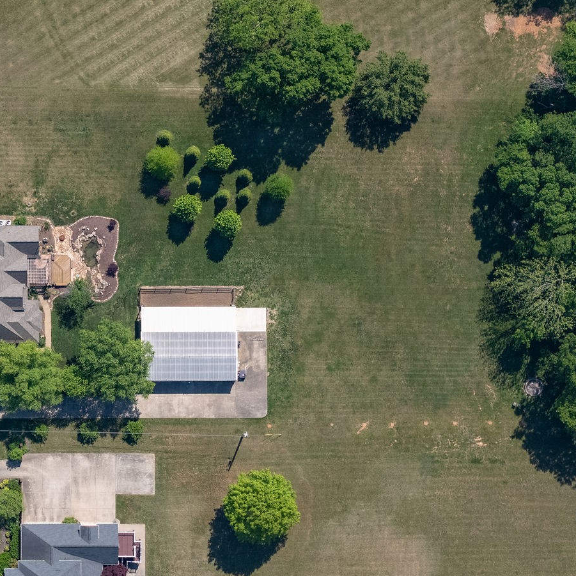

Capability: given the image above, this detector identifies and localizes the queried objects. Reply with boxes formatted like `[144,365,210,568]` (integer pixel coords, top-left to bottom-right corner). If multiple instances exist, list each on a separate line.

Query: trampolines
[523,377,544,396]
